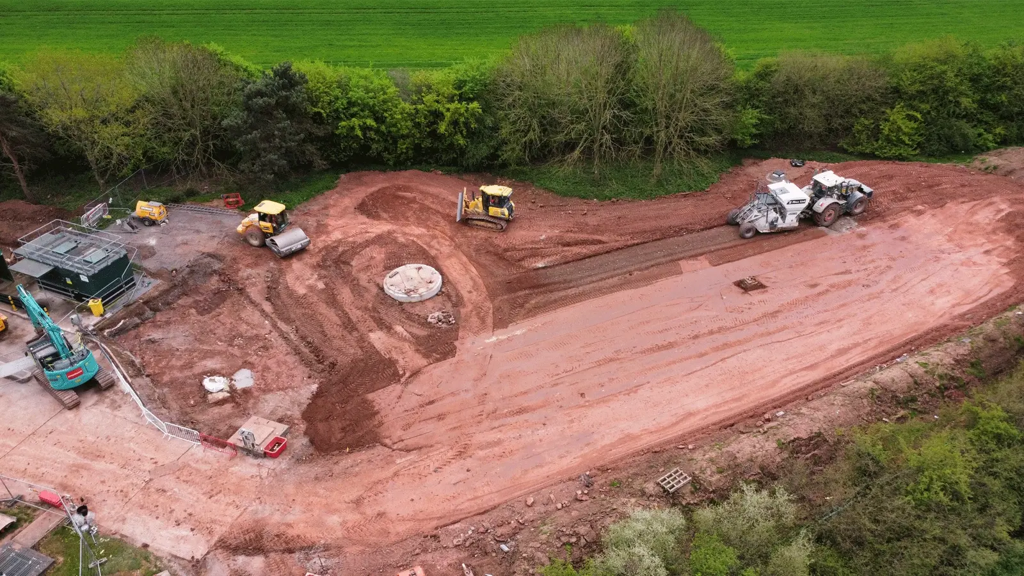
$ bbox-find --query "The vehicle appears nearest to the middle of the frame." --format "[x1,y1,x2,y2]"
[462,183,516,231]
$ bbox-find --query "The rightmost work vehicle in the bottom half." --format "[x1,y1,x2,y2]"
[23,281,118,413]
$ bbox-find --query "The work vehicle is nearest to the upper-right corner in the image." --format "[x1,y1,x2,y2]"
[799,177,874,230]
